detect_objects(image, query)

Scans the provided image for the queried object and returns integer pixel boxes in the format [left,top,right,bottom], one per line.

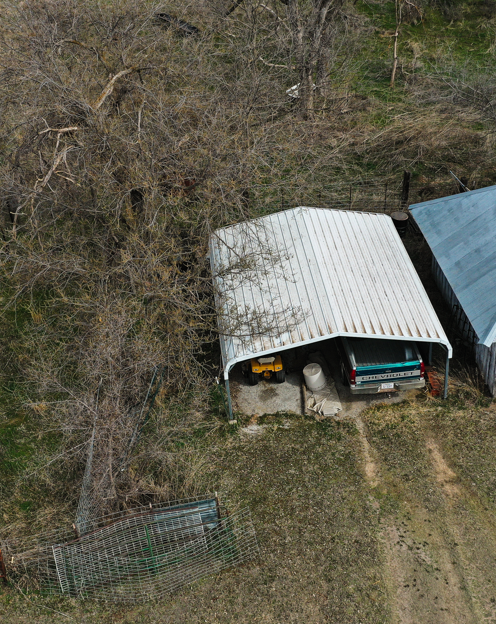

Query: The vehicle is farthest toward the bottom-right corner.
[334,334,424,397]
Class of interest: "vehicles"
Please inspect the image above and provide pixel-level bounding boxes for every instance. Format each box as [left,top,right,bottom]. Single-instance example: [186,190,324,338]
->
[334,334,424,397]
[247,354,286,385]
